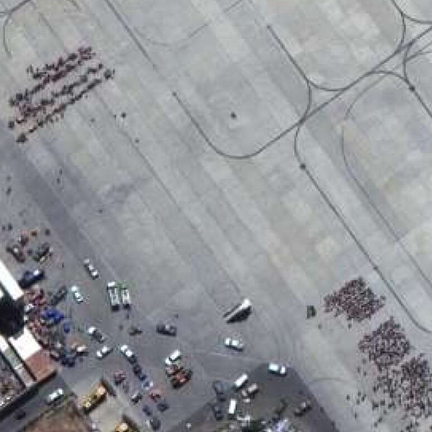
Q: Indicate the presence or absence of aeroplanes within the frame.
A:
No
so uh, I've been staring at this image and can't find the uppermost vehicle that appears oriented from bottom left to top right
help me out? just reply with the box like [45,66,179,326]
[32,244,51,261]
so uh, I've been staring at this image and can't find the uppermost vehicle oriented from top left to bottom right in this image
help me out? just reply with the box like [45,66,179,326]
[8,241,24,261]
